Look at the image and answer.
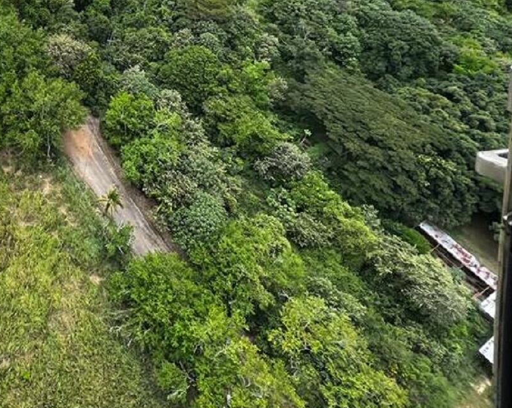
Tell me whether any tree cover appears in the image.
Yes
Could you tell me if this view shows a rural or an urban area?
rural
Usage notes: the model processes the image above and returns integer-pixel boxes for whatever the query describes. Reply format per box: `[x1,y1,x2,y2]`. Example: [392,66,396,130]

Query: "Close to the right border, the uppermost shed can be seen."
[412,223,502,303]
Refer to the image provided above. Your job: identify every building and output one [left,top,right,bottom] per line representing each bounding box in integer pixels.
[477,339,499,377]
[412,223,502,303]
